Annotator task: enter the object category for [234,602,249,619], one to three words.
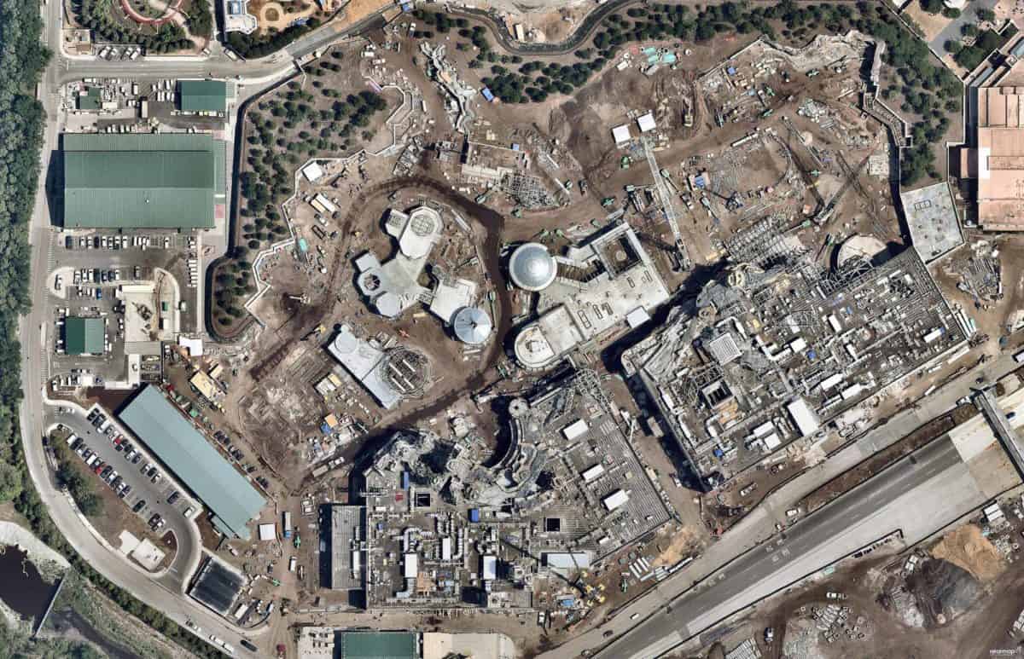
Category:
vehicle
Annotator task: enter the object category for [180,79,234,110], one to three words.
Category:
building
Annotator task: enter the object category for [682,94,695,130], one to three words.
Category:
vehicle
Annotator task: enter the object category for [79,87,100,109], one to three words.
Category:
shed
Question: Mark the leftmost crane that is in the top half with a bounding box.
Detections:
[645,136,699,281]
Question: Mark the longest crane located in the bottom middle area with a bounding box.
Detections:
[569,551,605,606]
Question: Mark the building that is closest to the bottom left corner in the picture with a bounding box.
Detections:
[132,539,165,571]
